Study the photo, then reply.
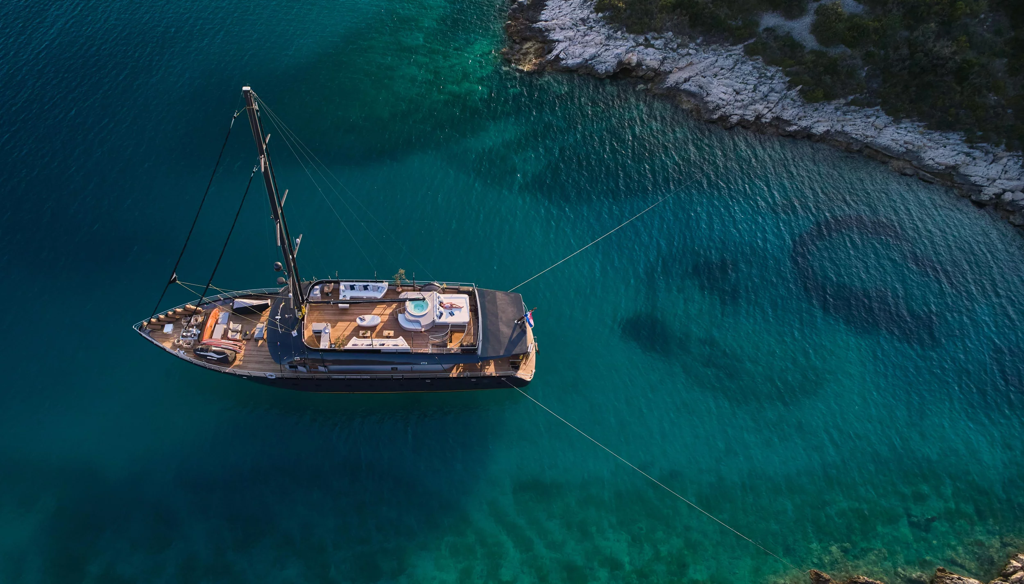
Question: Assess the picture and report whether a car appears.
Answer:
No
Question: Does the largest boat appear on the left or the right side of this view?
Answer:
left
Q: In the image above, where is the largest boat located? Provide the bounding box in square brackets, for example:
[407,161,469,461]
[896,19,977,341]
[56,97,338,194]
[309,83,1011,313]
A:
[136,80,541,394]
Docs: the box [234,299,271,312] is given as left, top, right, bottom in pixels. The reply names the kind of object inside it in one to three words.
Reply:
boat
